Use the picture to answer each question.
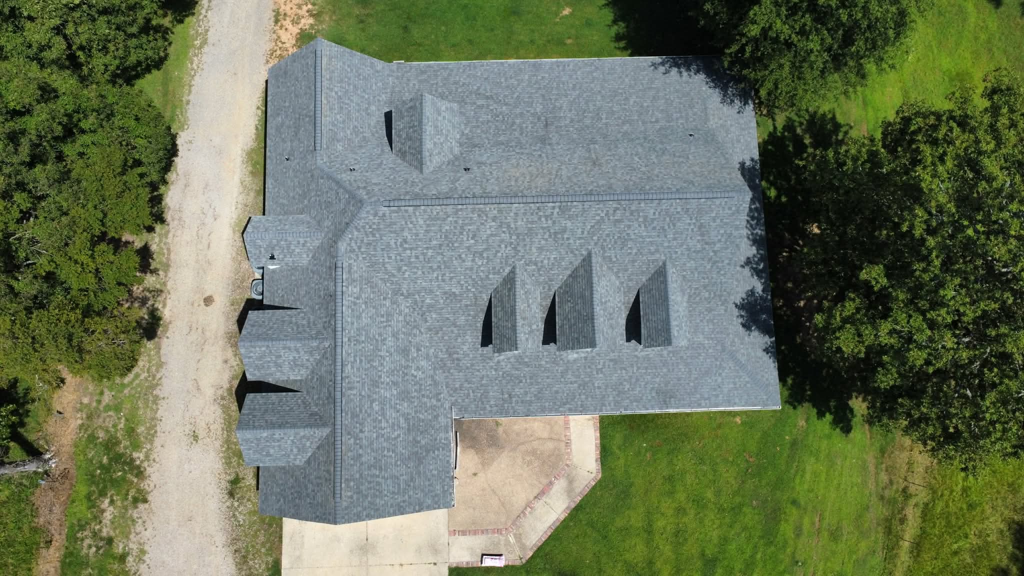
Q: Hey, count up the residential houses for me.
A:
one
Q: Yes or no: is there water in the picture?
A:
No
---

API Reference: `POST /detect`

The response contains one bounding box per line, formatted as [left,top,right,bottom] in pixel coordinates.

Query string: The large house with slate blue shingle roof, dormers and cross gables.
[235,38,782,524]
